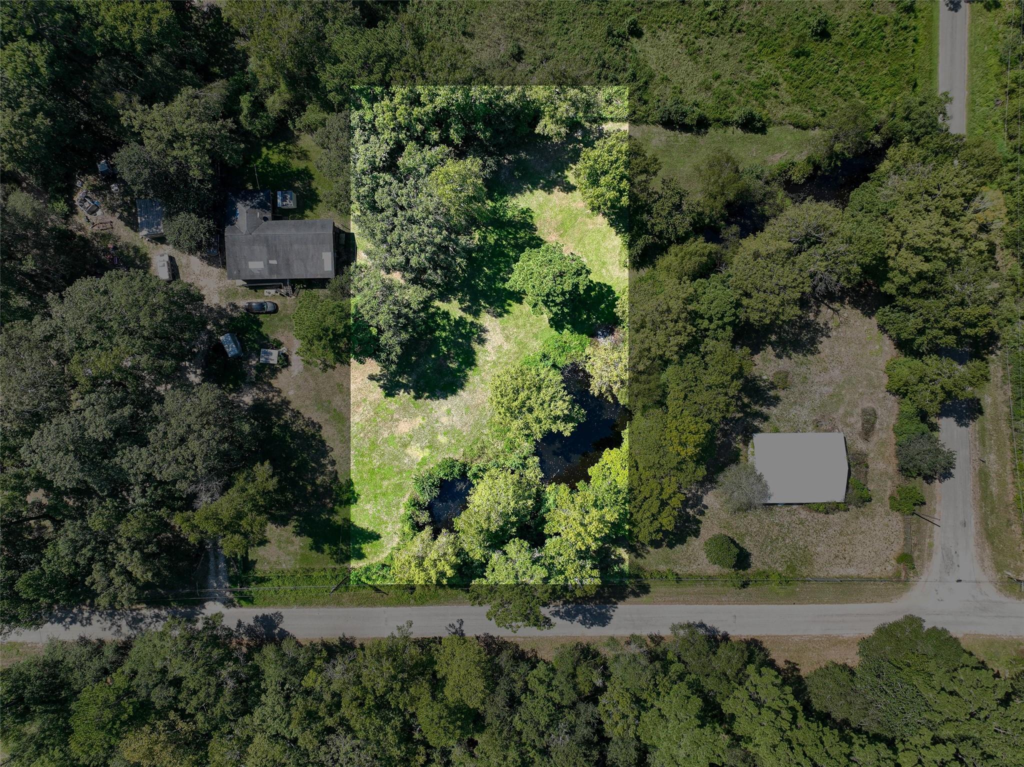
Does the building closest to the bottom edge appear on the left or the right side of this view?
right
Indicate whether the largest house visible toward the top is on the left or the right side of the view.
left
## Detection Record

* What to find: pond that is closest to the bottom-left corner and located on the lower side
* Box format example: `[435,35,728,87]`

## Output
[425,472,481,536]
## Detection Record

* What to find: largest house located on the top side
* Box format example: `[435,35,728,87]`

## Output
[221,191,336,297]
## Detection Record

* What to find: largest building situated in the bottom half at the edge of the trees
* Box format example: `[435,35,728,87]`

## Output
[741,433,846,505]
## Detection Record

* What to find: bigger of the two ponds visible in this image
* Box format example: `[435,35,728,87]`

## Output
[531,325,642,494]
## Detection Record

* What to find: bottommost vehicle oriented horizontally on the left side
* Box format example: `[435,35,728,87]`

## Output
[243,299,276,314]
